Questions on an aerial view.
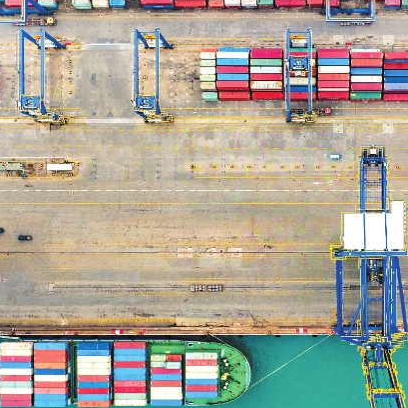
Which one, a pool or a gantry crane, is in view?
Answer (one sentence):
Of the two, only a gantry crane appears.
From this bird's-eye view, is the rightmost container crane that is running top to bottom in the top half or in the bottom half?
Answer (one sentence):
The rightmost container crane that is running top to bottom is in the bottom half of the image.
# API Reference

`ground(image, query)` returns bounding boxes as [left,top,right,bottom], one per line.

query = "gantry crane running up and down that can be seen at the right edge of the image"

[323,145,408,408]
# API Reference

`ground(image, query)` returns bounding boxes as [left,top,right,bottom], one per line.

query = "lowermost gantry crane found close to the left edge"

[15,29,71,124]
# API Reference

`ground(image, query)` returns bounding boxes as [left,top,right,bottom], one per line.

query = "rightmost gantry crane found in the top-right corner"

[316,0,375,25]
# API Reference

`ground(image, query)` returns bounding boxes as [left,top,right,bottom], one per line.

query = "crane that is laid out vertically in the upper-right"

[282,29,318,124]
